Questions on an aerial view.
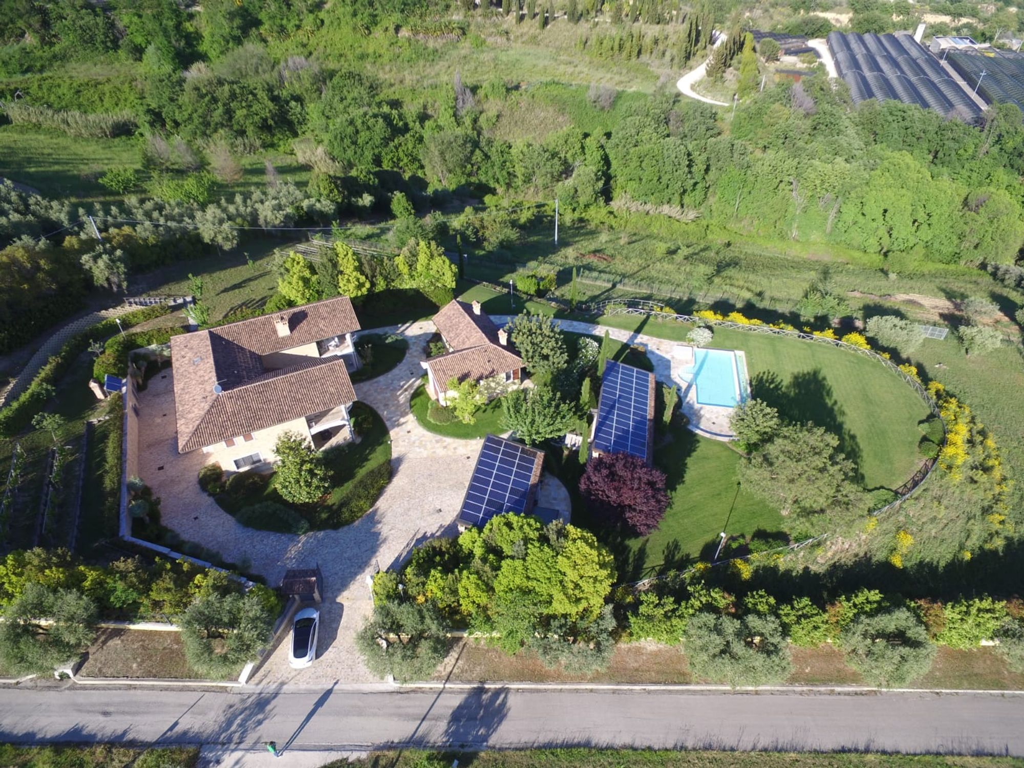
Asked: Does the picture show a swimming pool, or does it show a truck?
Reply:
swimming pool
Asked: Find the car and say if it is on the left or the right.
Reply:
left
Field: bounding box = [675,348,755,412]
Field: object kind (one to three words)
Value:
swimming pool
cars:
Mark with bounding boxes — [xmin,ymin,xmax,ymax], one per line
[287,608,321,666]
